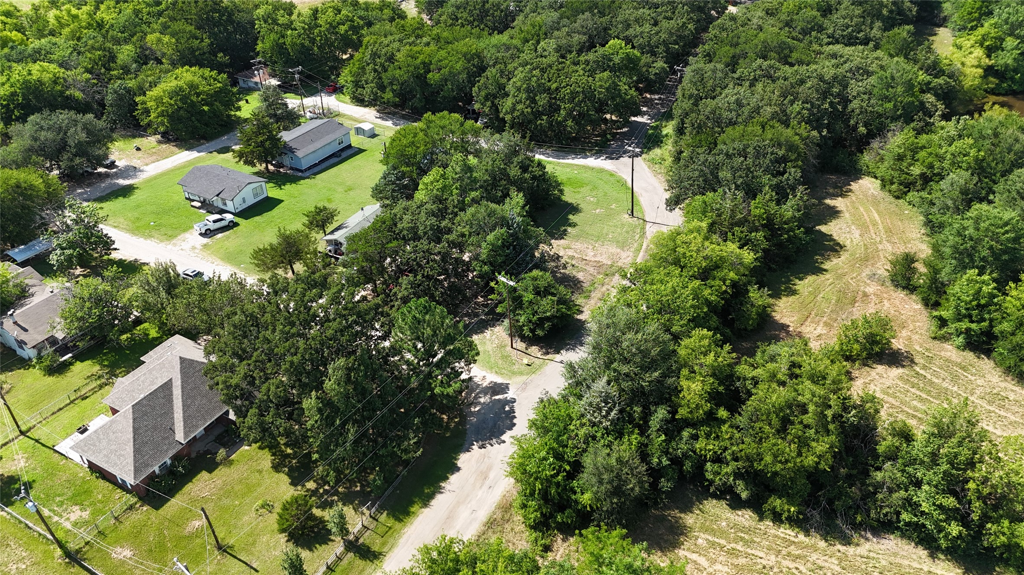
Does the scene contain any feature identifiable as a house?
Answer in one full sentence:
Yes, the frame does contain a house.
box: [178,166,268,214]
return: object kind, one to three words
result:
house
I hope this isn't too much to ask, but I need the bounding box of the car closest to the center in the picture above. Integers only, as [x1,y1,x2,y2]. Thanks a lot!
[471,116,492,128]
